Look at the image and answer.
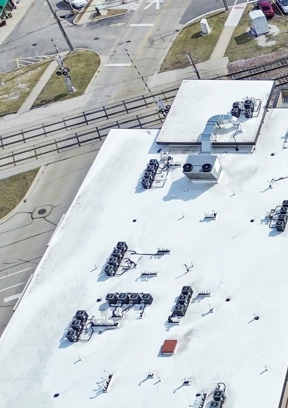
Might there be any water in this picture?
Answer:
No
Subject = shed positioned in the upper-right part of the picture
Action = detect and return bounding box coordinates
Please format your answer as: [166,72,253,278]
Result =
[247,6,274,35]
